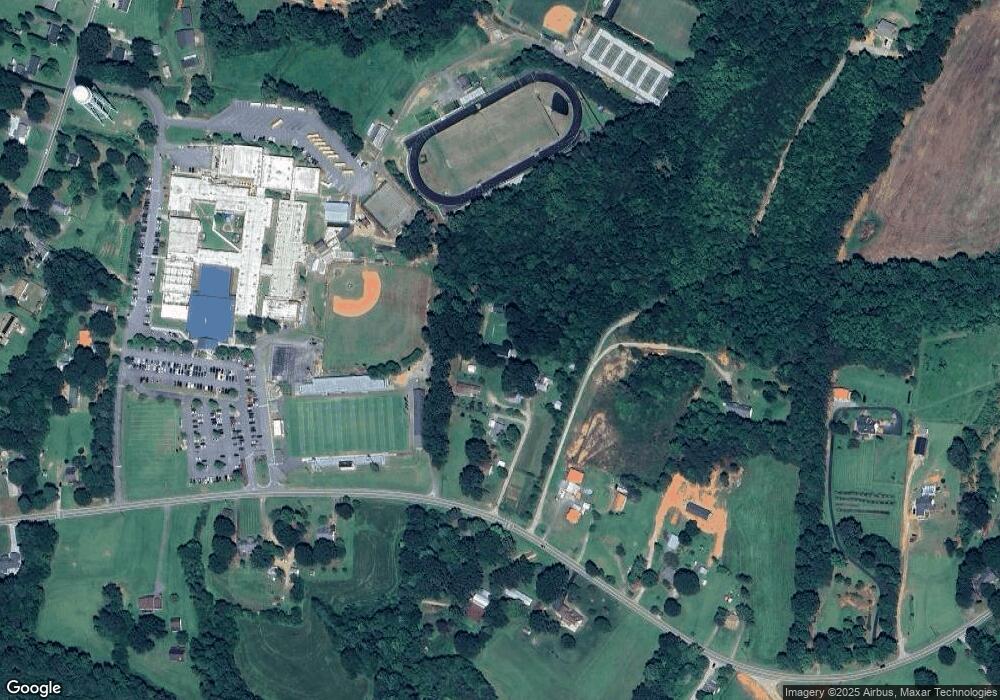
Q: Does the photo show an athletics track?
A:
Yes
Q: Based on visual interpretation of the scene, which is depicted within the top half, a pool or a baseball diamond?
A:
baseball diamond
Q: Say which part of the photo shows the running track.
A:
top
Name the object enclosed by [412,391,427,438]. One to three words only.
building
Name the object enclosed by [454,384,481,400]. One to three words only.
house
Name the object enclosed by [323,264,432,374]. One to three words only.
baseball field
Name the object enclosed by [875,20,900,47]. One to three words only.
house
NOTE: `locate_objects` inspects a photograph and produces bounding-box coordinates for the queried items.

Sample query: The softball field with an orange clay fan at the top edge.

[511,0,589,37]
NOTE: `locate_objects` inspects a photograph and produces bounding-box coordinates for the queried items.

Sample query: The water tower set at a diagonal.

[67,81,119,127]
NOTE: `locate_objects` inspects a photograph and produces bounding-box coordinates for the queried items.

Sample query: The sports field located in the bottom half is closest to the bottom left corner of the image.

[286,393,411,459]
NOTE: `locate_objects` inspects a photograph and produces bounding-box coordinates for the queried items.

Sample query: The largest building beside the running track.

[160,144,323,350]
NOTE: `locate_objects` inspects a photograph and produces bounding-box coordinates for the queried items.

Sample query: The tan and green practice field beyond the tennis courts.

[616,0,697,55]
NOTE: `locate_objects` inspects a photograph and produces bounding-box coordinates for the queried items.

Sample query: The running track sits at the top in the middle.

[402,72,583,205]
